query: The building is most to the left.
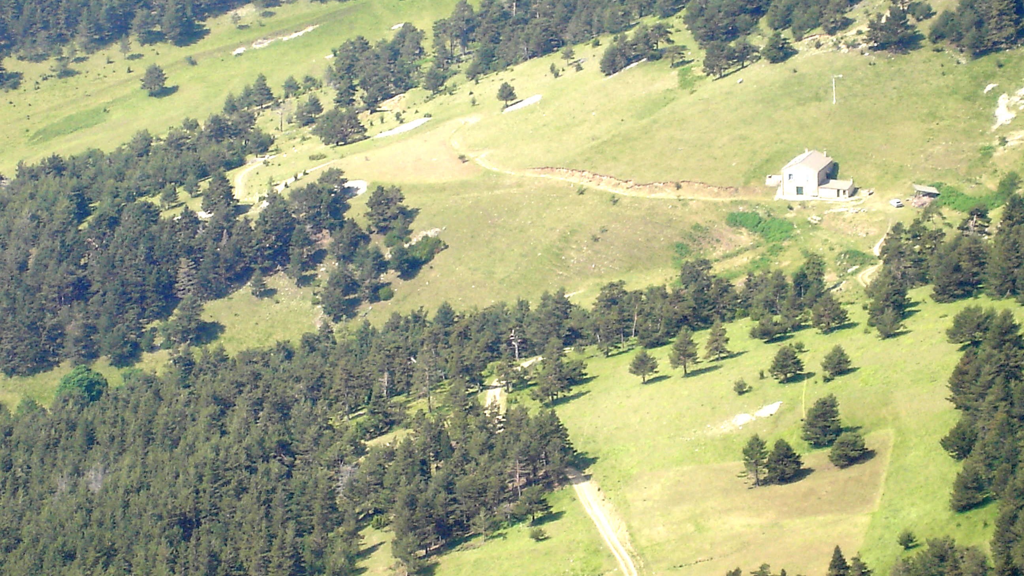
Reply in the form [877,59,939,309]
[770,148,855,203]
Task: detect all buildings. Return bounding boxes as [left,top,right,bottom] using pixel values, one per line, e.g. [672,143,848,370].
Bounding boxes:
[770,148,855,203]
[915,183,947,202]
